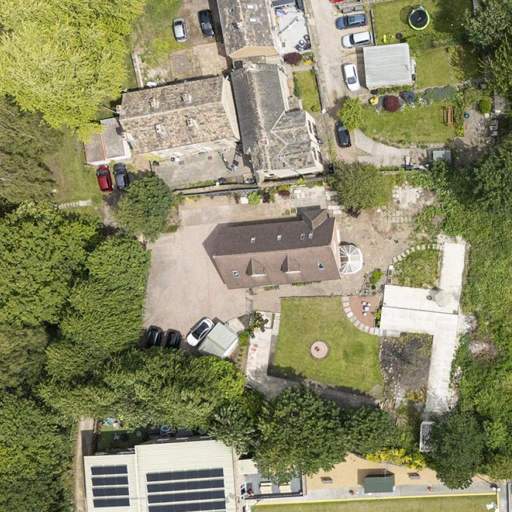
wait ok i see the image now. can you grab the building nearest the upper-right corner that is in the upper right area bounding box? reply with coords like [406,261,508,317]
[363,41,413,93]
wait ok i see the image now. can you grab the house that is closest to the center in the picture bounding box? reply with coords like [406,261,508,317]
[213,207,343,290]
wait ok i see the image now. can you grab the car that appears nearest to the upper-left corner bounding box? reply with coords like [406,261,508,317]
[172,17,189,44]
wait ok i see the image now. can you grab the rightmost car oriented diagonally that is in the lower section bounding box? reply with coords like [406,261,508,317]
[188,317,214,346]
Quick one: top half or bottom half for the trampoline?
top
